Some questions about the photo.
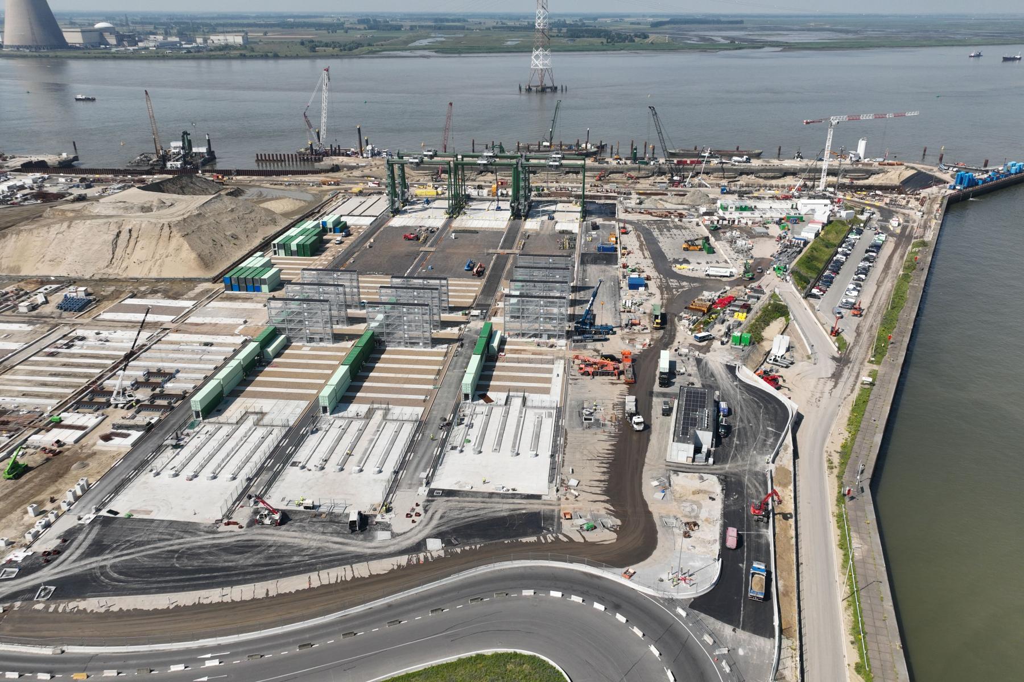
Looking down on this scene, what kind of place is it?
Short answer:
port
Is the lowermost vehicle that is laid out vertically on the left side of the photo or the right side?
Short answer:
right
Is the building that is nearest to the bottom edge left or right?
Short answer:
right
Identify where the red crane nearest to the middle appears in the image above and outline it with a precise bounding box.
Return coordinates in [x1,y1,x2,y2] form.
[568,351,621,376]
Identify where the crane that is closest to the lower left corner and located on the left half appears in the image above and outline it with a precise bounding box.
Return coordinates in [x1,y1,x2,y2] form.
[103,307,165,405]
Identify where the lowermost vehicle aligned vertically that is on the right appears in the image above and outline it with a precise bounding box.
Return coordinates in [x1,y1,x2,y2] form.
[749,557,769,599]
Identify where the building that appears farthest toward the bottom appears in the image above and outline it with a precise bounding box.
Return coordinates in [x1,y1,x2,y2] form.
[665,386,722,460]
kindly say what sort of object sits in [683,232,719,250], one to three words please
work vehicle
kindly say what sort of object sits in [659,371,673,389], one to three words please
vehicle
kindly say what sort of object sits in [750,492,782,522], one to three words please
work vehicle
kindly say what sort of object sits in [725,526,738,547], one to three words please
vehicle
